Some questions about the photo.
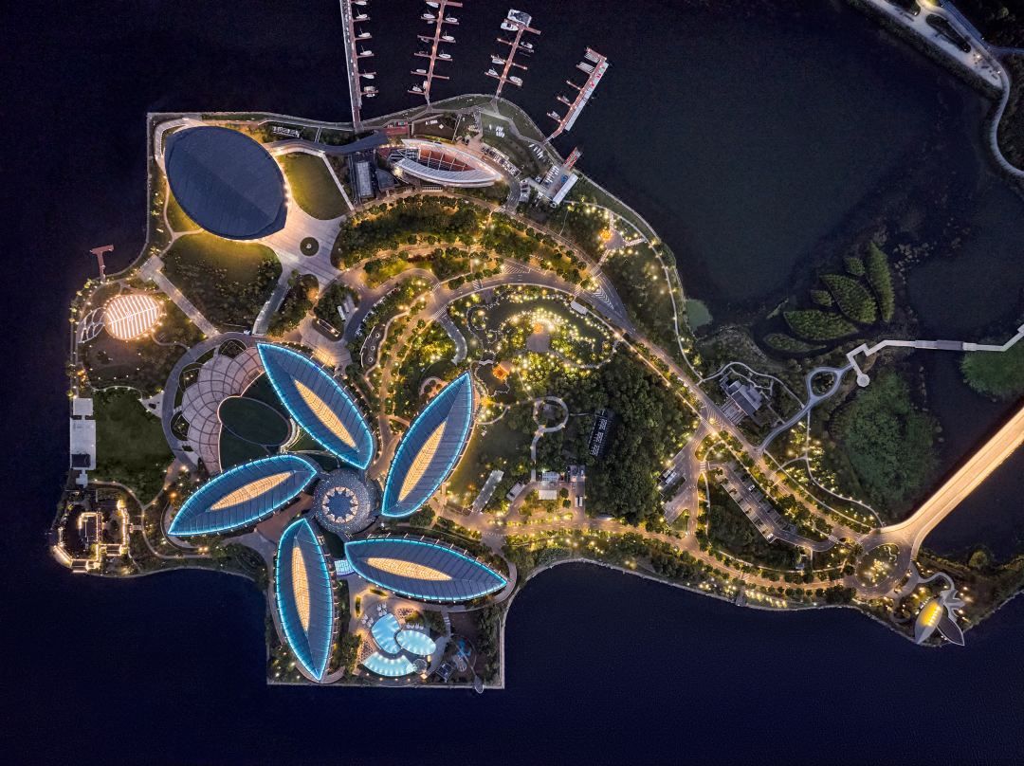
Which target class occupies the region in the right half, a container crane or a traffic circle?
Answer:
traffic circle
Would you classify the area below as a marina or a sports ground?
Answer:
marina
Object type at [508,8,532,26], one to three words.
boat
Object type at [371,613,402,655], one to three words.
swimming pool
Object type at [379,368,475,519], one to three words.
building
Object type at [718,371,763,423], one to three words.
house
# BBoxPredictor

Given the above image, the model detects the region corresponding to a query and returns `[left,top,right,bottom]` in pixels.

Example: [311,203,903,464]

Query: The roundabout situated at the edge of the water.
[842,530,913,600]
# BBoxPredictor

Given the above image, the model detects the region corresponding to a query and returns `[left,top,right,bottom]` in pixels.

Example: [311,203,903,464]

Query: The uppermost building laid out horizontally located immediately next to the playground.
[341,535,510,604]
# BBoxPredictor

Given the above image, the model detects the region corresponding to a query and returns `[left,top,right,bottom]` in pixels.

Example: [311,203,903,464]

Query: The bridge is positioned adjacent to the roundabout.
[874,412,1024,559]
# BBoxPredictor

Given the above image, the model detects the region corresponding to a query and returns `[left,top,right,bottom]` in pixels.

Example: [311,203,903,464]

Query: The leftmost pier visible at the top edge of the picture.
[339,0,378,125]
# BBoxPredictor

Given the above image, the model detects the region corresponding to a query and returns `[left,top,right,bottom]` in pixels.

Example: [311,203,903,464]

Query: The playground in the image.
[449,612,483,664]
